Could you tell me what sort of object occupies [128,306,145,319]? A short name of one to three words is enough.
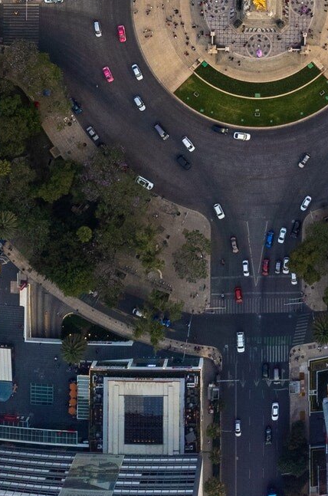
vehicle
